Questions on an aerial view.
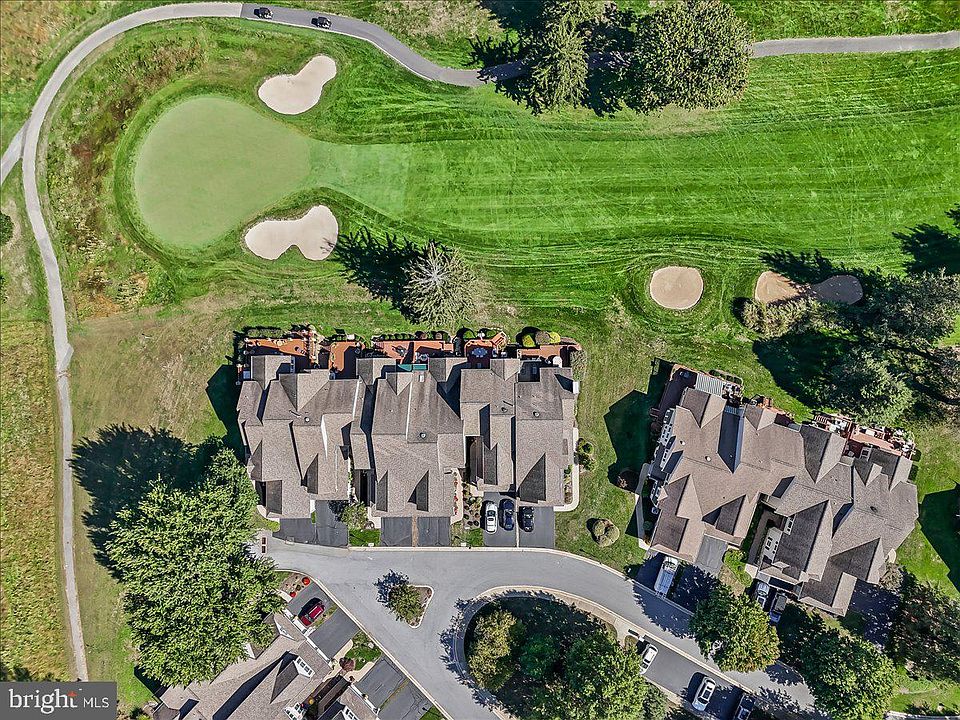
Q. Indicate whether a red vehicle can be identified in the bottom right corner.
No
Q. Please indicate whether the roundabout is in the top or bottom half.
bottom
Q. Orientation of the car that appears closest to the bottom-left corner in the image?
diagonally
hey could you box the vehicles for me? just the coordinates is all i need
[638,642,660,676]
[692,673,716,711]
[313,15,334,32]
[520,506,536,532]
[255,6,276,22]
[653,557,678,600]
[768,588,789,625]
[300,598,330,627]
[484,501,500,533]
[501,498,517,532]
[728,693,752,720]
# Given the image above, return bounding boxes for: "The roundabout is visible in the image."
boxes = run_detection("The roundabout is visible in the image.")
[456,585,714,720]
